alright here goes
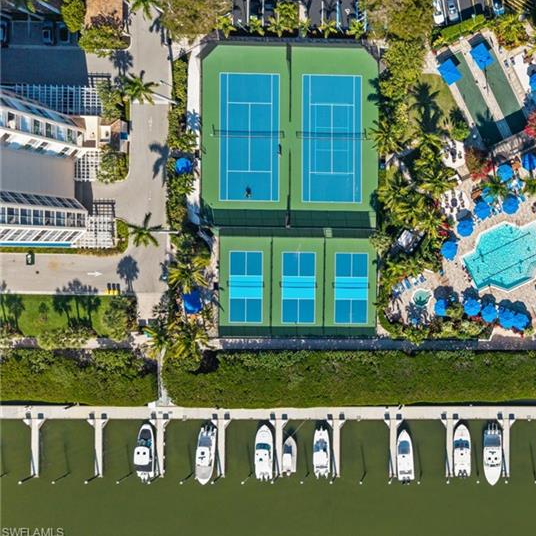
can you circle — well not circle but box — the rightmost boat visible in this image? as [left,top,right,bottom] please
[482,423,502,486]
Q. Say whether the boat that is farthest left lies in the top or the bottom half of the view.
bottom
